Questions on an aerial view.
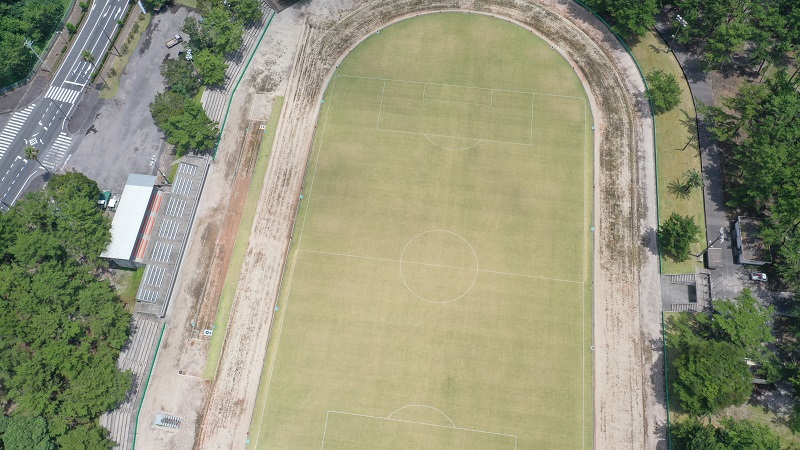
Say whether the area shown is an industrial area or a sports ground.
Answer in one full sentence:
It's a sports ground.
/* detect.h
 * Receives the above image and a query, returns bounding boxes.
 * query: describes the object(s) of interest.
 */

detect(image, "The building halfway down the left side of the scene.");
[100,174,160,264]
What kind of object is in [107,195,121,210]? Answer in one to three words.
vehicle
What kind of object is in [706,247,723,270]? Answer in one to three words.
shed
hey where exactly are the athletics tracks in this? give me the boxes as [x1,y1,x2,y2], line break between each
[197,0,645,450]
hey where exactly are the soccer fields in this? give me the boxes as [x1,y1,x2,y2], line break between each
[246,13,593,450]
